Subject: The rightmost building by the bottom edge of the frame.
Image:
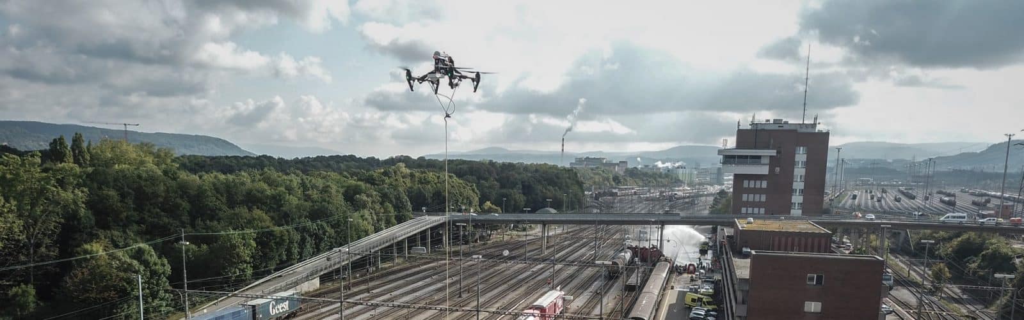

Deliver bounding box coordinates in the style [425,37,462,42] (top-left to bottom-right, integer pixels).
[718,219,889,320]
